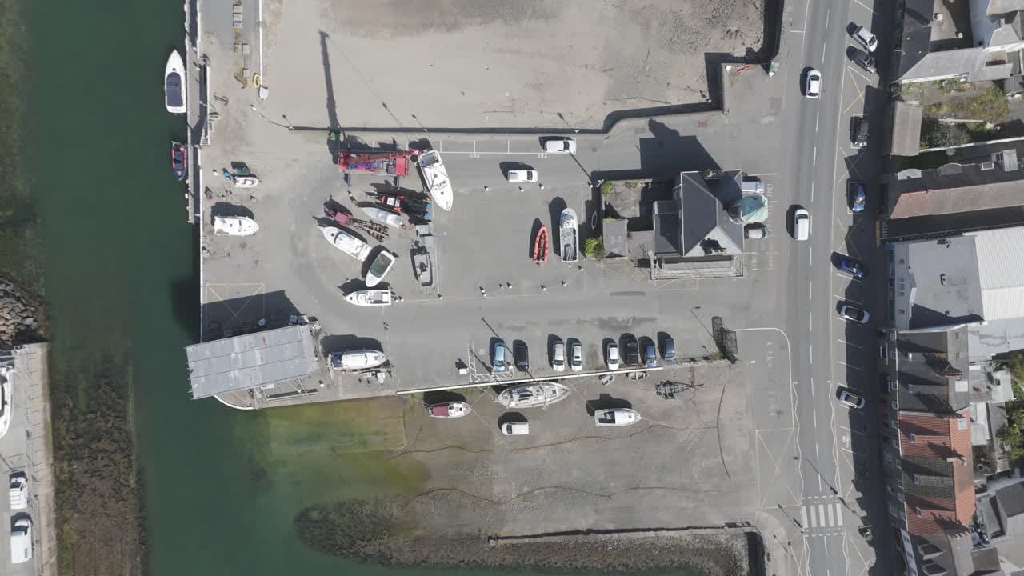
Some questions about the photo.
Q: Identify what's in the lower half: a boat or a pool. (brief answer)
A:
boat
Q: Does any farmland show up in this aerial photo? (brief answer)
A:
No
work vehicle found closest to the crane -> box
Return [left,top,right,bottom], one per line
[368,189,401,211]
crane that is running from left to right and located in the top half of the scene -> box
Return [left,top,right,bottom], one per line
[339,144,449,191]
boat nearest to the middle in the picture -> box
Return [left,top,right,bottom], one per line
[532,225,548,267]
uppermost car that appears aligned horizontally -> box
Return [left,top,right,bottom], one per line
[543,140,574,153]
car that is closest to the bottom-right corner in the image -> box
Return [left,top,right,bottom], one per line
[834,387,864,406]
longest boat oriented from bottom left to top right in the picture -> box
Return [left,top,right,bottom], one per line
[366,248,397,288]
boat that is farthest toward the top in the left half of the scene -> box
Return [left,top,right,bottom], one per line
[164,49,189,117]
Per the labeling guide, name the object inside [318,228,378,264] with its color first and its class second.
white boat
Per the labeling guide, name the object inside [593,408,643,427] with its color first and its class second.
white boat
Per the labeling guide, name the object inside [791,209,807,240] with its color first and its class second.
white vehicle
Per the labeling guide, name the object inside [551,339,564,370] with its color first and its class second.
white vehicle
